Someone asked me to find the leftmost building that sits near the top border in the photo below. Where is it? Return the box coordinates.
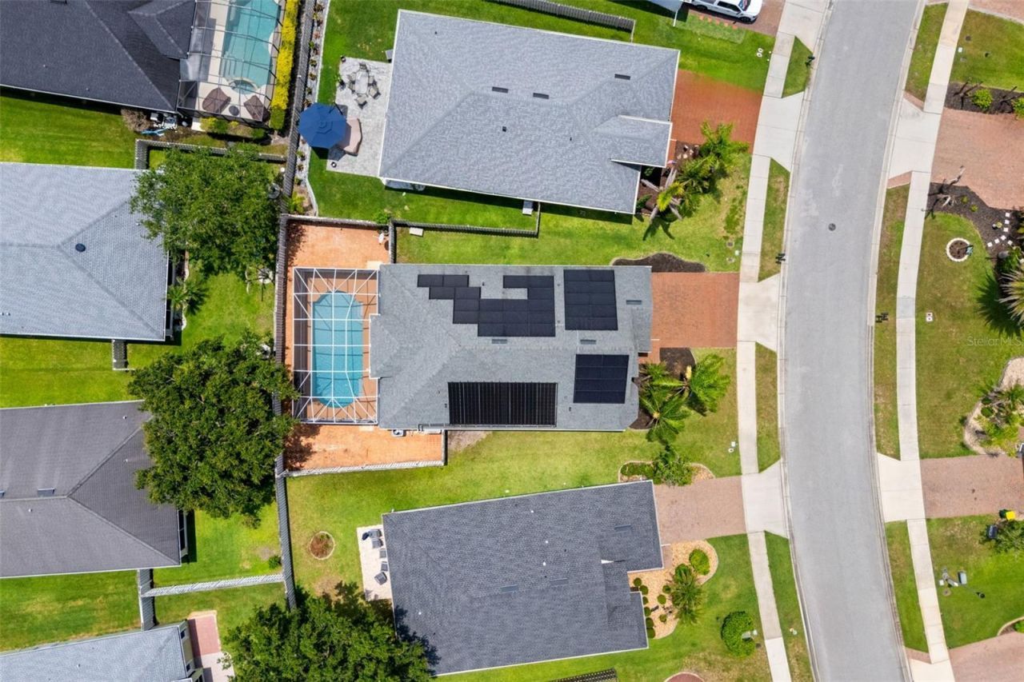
[0,0,205,114]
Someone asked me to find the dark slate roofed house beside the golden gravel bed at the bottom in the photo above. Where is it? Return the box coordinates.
[382,479,663,680]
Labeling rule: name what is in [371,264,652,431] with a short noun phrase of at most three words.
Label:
house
